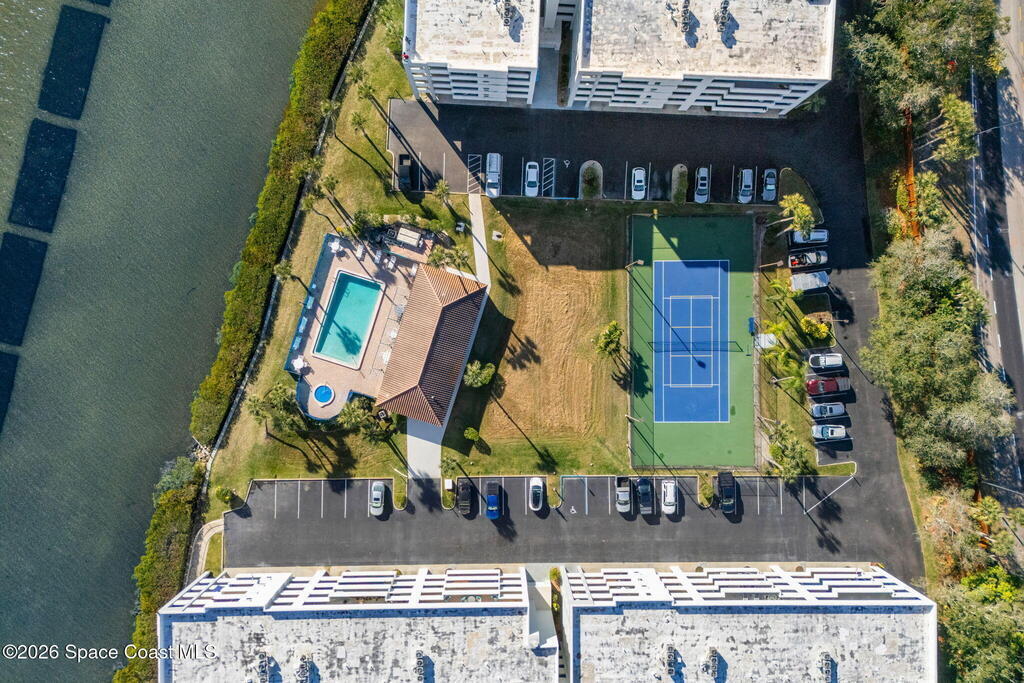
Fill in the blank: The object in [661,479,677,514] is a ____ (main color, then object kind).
white car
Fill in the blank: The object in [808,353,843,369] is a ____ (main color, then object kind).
white car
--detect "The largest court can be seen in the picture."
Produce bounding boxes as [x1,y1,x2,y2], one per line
[626,213,764,472]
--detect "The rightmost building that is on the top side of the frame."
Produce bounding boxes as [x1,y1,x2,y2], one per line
[567,0,836,118]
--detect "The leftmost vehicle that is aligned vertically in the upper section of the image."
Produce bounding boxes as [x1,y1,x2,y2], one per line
[397,153,412,191]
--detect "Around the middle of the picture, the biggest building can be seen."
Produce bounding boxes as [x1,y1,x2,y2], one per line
[376,263,487,427]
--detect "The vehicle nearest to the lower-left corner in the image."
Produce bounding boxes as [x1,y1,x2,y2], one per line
[369,481,385,516]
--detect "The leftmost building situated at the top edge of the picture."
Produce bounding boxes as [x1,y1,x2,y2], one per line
[402,0,542,109]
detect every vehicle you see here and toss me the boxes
[792,229,828,245]
[524,162,539,197]
[397,153,412,191]
[485,152,502,198]
[369,481,385,516]
[631,167,646,200]
[693,168,710,203]
[616,475,631,513]
[457,479,472,513]
[806,378,851,395]
[737,169,754,204]
[761,169,777,202]
[661,479,677,514]
[637,477,653,515]
[808,353,843,369]
[485,479,501,520]
[811,424,846,440]
[787,251,828,268]
[811,402,845,418]
[529,477,544,511]
[718,471,736,514]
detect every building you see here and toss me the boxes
[560,566,938,683]
[156,567,530,683]
[567,0,836,118]
[397,228,422,246]
[402,0,542,109]
[376,263,487,427]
